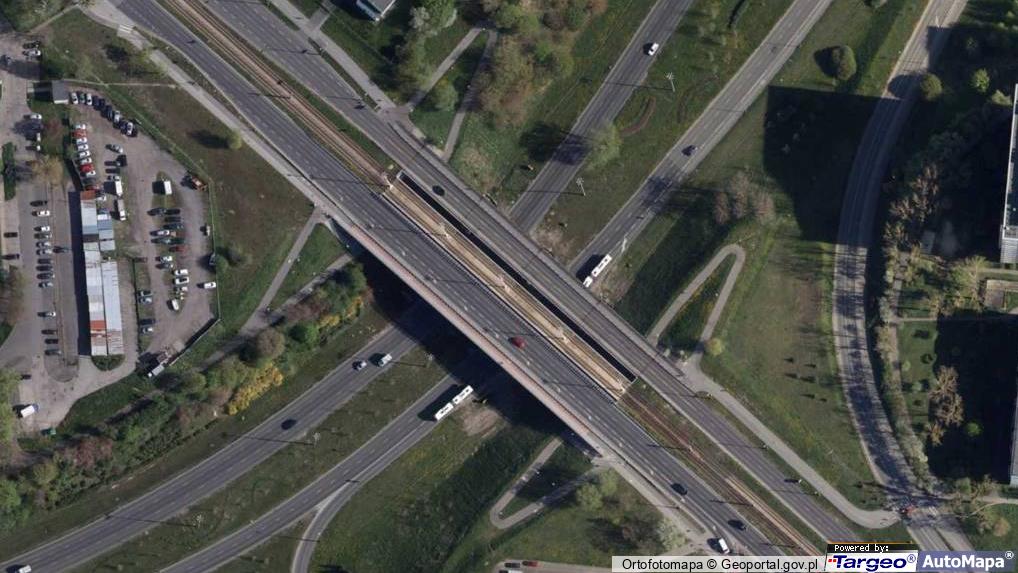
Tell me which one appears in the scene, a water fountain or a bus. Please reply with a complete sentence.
Looking from above, you can make out a bus.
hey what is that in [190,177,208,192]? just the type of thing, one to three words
vehicle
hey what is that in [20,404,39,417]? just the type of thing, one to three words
vehicle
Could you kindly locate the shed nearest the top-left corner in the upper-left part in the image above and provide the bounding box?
[52,81,69,103]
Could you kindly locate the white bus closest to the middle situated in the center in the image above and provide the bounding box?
[580,255,613,290]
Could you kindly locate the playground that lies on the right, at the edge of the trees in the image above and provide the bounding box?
[986,281,1018,307]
